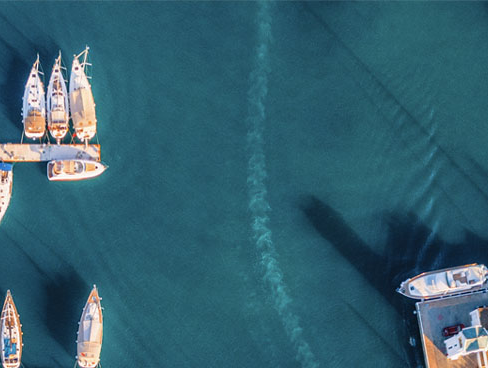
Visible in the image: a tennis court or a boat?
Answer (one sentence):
I can see a boat in this picture.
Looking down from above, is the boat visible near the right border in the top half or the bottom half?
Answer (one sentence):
The bottom half of the photo is where the boat visible near the right border is.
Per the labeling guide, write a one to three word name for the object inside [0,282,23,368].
boat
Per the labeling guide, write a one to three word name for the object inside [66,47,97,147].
boat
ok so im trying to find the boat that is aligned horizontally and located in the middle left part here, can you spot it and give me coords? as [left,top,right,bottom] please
[48,159,109,181]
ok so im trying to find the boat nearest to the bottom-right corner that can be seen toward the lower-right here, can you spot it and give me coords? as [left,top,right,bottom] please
[397,266,488,298]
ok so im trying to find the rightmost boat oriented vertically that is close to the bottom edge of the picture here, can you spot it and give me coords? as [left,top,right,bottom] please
[77,278,106,368]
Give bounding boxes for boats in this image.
[77,278,106,368]
[48,159,109,181]
[0,161,17,237]
[397,266,488,298]
[66,47,97,147]
[0,282,23,368]
[19,54,48,145]
[43,51,68,148]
